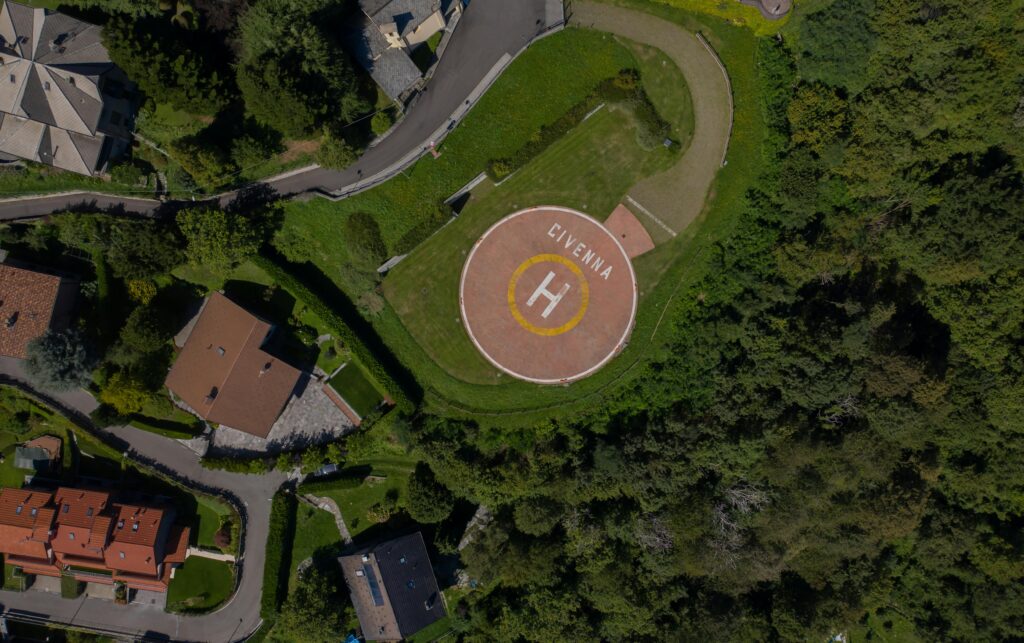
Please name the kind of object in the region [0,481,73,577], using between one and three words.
house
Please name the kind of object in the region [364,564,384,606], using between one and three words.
solar panel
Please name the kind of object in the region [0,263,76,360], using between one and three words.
house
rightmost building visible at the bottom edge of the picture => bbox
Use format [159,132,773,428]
[338,527,447,640]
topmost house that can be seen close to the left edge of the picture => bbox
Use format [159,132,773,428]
[0,2,136,177]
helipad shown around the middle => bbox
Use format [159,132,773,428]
[458,204,654,385]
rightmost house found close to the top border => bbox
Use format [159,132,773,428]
[358,0,444,120]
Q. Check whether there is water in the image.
No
